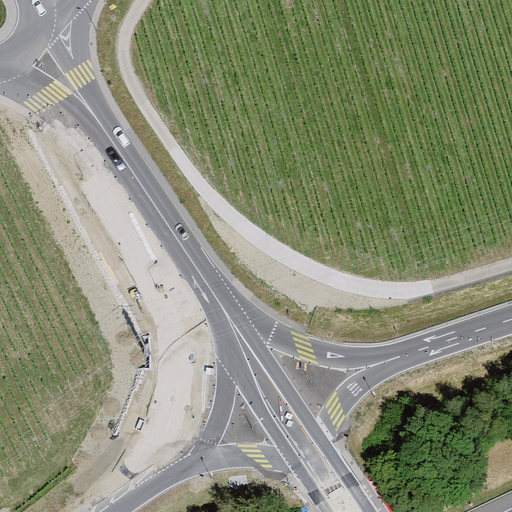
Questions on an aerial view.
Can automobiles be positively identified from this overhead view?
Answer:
Yes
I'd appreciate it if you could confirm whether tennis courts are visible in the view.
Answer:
No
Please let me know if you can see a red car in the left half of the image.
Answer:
No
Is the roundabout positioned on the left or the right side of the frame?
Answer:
left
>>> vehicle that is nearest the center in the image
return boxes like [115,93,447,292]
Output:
[174,222,189,241]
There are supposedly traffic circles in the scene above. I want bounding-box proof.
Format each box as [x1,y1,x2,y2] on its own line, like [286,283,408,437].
[0,0,104,116]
